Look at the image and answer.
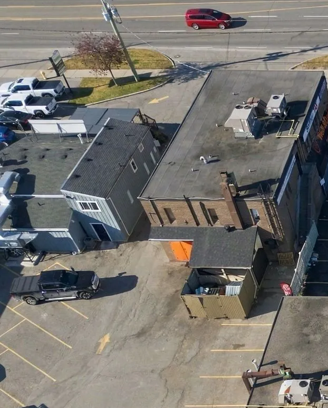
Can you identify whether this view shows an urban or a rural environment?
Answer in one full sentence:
The area is urban.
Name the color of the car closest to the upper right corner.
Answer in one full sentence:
The color of the car closest to the upper right corner is red.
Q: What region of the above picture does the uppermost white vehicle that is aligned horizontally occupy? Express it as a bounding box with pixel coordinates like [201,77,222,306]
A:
[2,72,62,96]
